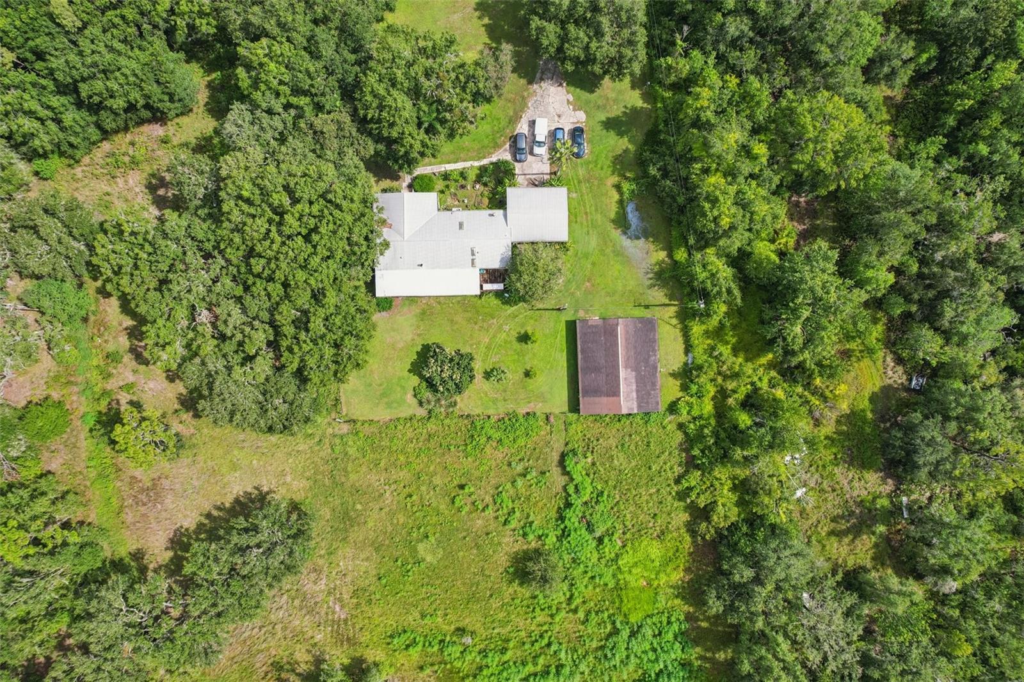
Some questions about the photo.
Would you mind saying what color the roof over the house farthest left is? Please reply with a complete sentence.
The roof of the house farthest left is white.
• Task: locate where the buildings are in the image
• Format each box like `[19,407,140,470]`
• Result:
[375,185,568,297]
[577,317,660,414]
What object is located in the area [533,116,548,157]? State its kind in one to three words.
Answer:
vehicle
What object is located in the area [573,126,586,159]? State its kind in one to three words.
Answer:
vehicle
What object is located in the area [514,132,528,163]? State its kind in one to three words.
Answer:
car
